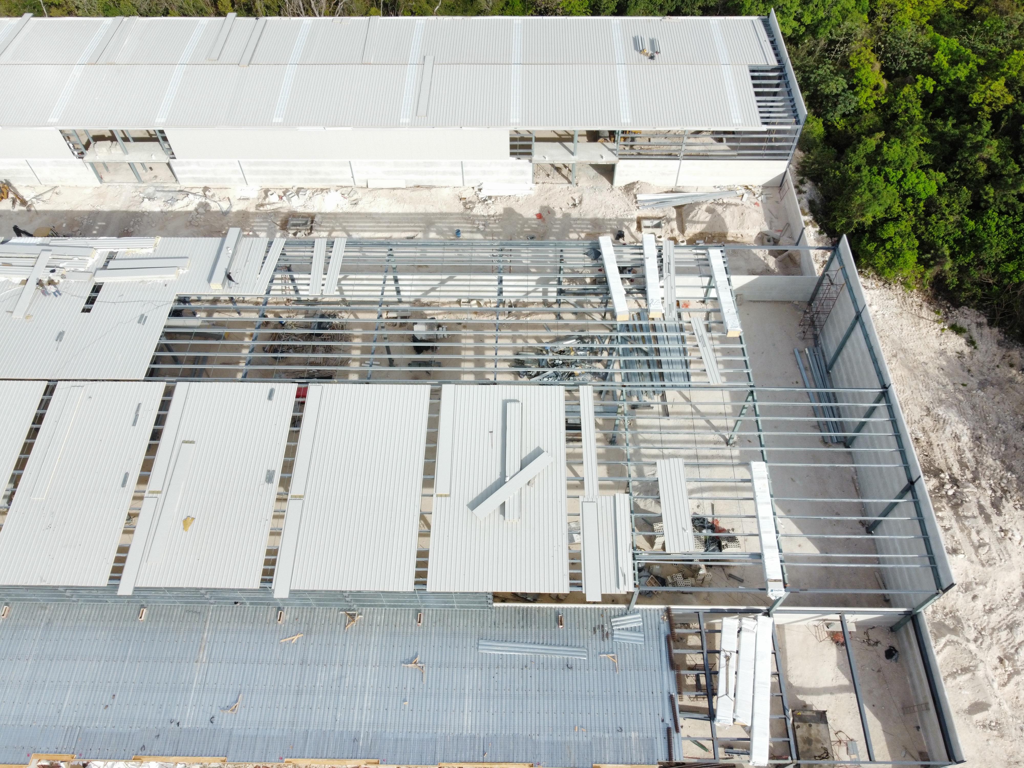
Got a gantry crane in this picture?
No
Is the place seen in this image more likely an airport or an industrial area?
industrial area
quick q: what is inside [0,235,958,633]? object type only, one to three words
warehouse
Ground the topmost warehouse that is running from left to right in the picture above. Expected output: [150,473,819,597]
[0,8,809,188]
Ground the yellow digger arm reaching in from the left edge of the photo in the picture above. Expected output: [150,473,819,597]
[0,180,24,209]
